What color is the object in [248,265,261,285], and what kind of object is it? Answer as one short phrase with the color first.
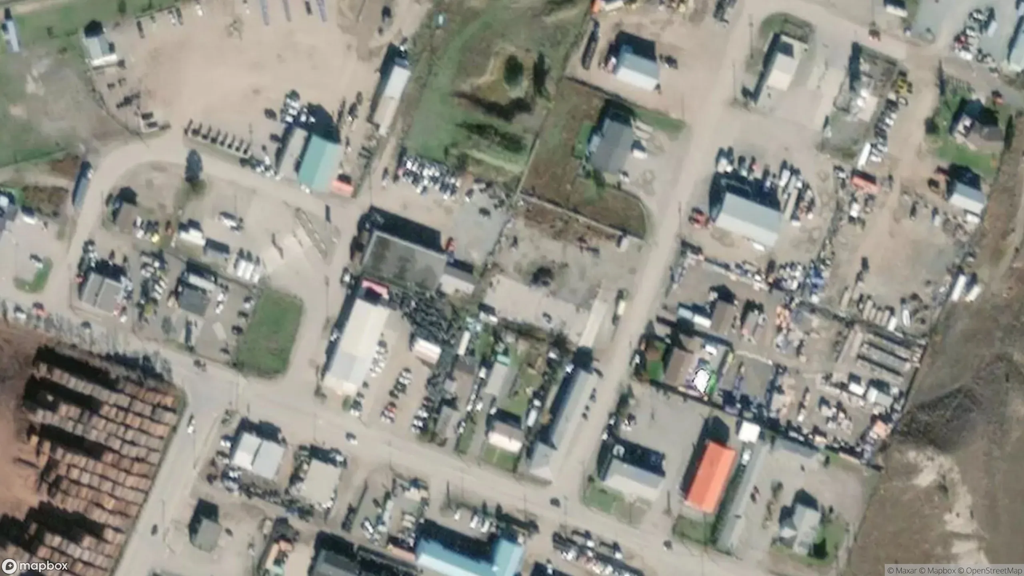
white vehicle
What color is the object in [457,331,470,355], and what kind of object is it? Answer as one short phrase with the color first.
white vehicle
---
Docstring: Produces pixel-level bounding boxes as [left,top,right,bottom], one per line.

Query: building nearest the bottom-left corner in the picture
[189,516,222,552]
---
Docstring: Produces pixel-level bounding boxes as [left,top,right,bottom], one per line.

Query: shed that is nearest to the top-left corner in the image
[4,20,22,52]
